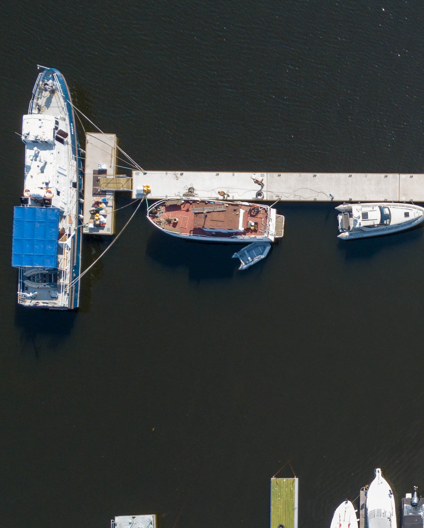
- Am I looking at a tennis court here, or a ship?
ship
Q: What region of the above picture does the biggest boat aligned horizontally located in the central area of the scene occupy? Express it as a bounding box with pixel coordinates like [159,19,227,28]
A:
[146,197,286,243]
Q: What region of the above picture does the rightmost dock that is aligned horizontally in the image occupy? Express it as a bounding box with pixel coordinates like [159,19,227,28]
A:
[131,170,424,204]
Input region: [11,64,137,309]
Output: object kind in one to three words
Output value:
ship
